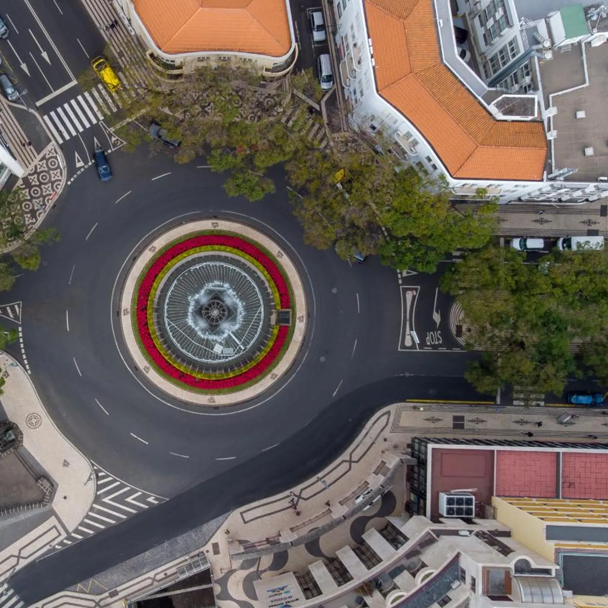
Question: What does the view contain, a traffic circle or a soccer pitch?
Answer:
traffic circle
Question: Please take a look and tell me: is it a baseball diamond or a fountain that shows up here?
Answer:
fountain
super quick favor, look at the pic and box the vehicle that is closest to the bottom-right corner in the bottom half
[565,390,605,409]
